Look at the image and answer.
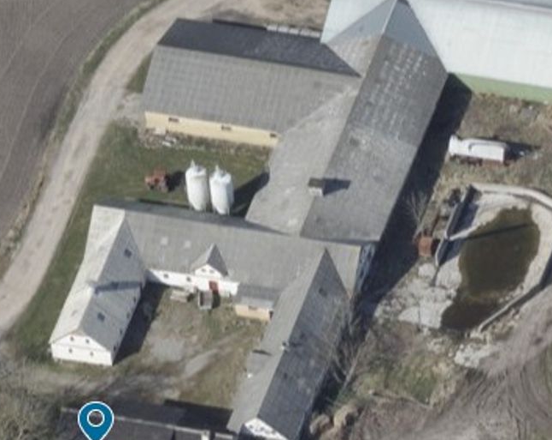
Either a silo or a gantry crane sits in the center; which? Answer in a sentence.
It is a silo that can be seen in the center.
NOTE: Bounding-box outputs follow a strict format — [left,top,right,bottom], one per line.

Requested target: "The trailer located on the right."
[449,132,517,167]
